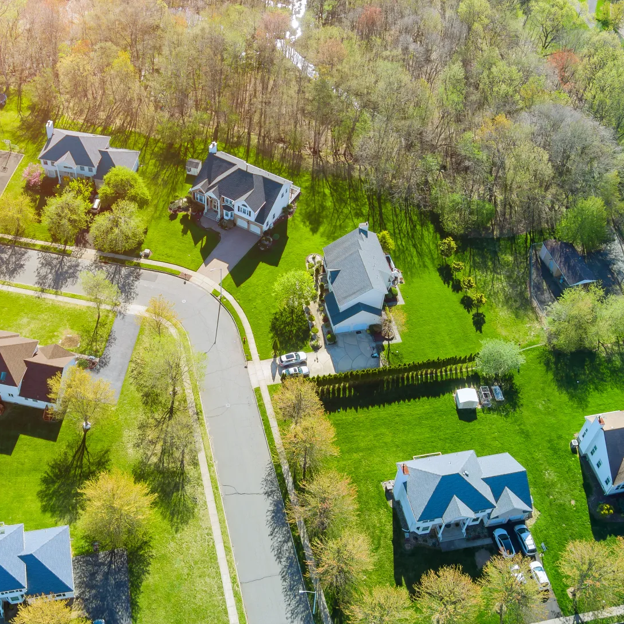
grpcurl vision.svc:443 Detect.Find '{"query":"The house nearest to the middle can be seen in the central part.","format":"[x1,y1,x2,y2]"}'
[324,221,396,335]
